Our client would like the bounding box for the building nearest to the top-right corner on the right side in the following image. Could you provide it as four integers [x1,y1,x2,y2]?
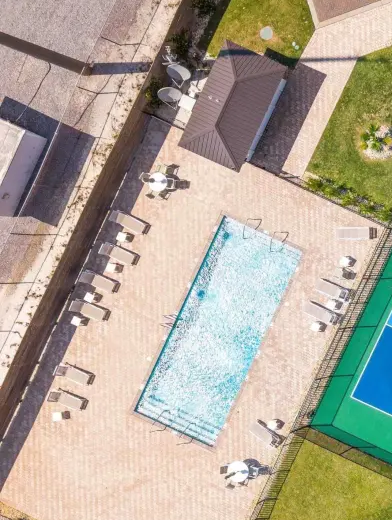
[178,39,298,172]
